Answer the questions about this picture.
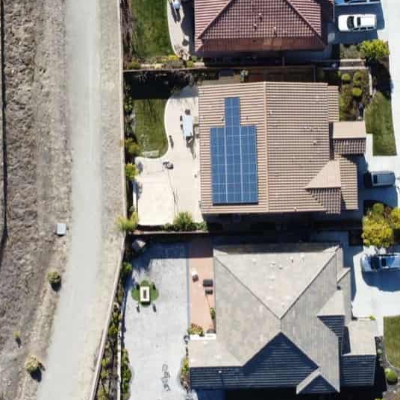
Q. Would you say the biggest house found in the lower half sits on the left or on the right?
right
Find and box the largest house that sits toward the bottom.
[189,243,377,394]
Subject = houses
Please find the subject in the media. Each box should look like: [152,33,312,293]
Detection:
[194,0,335,52]
[189,243,377,394]
[198,82,366,213]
